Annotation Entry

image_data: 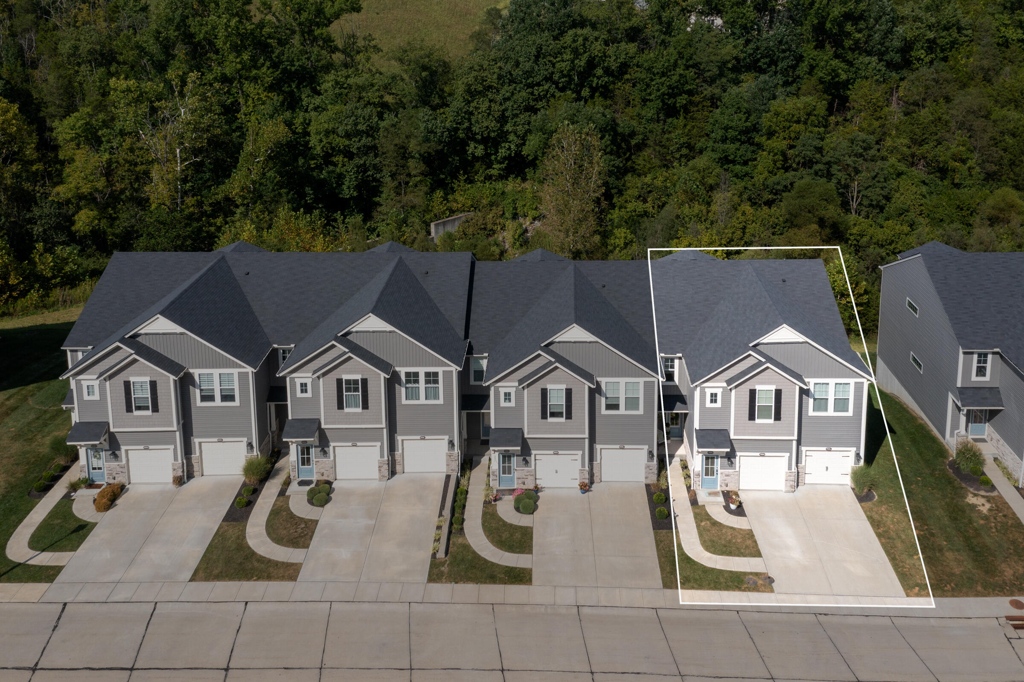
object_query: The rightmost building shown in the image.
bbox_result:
[884,240,1024,495]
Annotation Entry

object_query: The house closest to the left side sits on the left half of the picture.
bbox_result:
[61,241,294,501]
